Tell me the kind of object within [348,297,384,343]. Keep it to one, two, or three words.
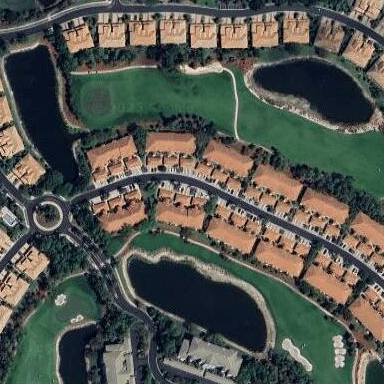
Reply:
house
